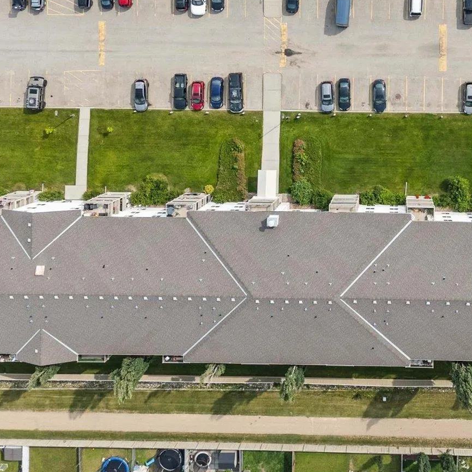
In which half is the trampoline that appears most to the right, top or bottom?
bottom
